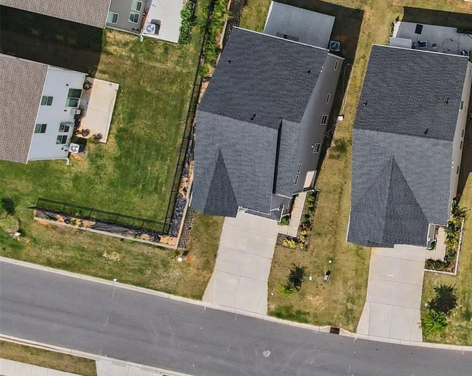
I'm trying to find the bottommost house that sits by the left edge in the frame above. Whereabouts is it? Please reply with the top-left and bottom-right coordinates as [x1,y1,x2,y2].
[0,55,87,163]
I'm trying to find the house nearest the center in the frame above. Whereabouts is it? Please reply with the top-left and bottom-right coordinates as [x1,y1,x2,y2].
[187,25,345,226]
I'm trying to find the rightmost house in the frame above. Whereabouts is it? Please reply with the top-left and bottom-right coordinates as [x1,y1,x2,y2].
[346,42,472,250]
